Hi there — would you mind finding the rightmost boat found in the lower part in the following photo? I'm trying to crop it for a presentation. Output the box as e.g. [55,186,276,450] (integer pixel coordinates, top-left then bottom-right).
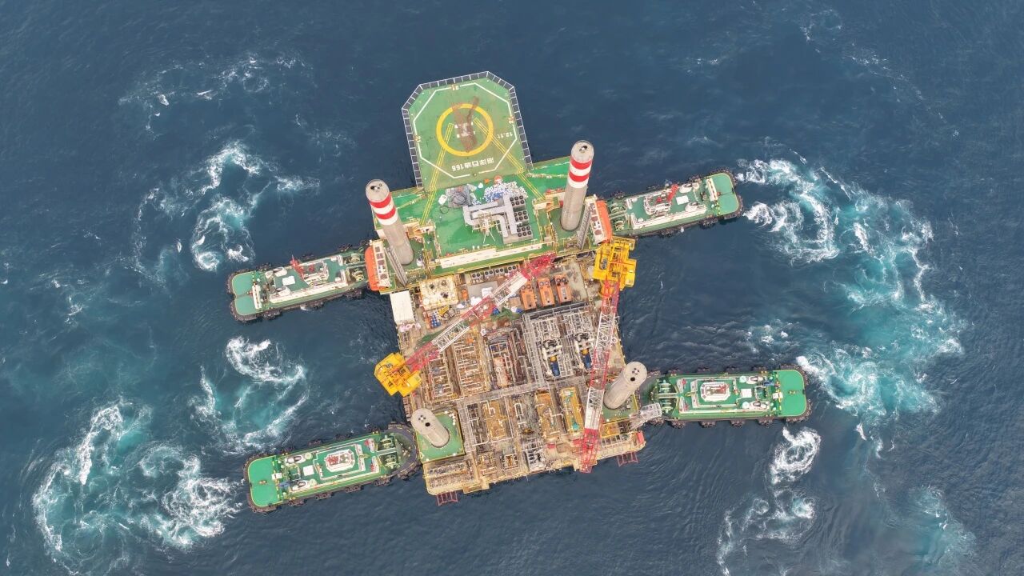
[636,363,811,427]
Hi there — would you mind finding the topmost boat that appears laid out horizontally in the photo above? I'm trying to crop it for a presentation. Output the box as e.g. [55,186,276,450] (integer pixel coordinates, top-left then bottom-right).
[597,172,743,243]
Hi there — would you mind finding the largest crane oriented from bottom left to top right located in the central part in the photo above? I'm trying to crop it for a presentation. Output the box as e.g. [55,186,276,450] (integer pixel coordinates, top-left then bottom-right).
[377,250,561,402]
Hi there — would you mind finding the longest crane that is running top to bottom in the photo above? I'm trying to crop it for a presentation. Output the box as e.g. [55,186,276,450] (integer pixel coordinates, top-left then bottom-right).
[579,246,633,475]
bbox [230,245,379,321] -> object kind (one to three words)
boat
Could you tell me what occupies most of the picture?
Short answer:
water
